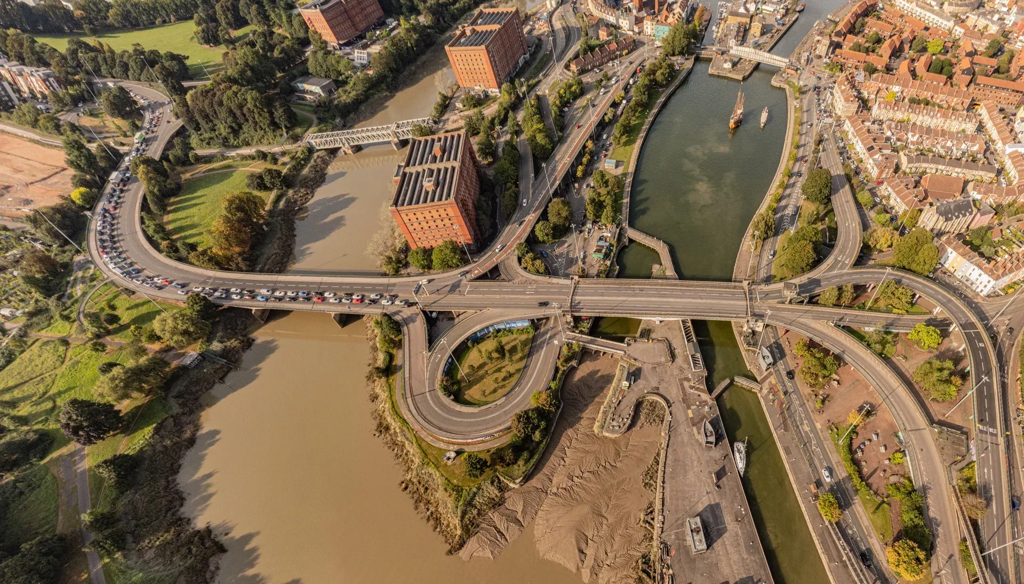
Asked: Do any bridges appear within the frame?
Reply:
Yes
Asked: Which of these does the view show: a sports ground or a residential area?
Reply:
residential area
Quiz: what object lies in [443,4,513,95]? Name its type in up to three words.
building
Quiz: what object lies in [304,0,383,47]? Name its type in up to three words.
building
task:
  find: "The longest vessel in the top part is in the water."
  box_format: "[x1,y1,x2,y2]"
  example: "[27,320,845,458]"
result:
[727,81,747,130]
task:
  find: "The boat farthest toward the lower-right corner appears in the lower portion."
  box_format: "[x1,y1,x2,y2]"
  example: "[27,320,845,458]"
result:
[735,441,748,476]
